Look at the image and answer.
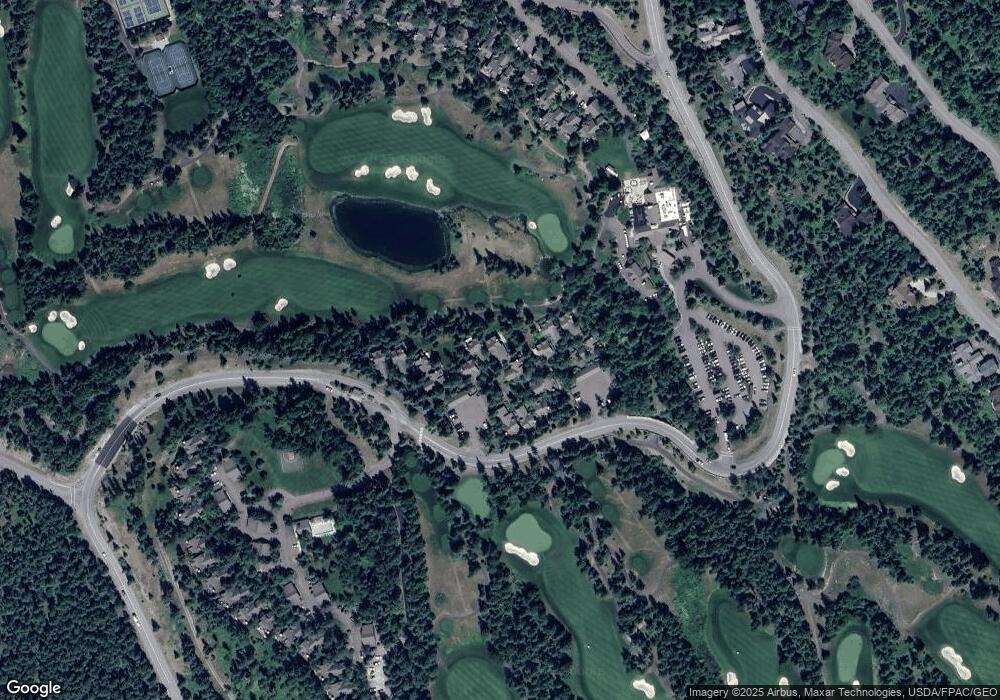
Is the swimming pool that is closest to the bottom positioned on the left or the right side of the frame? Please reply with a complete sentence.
The swimming pool that is closest to the bottom is on the left side of the image.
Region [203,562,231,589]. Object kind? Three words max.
house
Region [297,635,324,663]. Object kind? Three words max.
house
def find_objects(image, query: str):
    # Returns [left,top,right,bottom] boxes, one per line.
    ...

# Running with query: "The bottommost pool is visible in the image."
[310,516,336,537]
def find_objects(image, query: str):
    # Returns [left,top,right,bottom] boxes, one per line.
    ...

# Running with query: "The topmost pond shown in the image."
[333,197,449,268]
